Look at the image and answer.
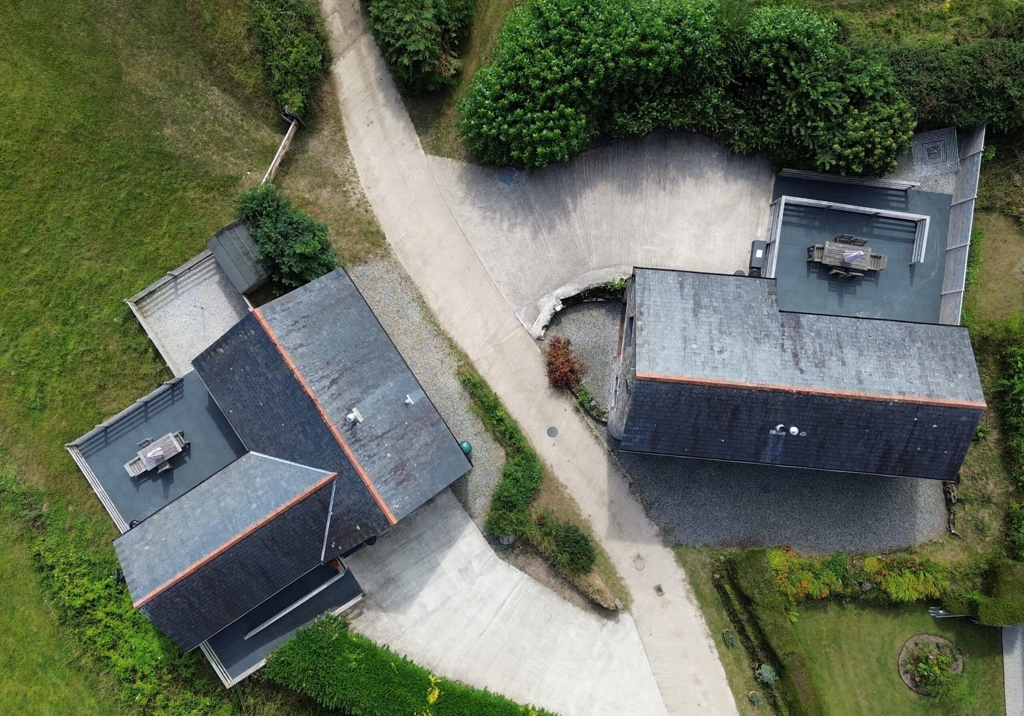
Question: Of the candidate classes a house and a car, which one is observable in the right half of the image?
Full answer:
It is a house that can be seen in the right half of the image.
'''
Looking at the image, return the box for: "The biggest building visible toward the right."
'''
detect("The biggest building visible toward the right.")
[608,265,988,483]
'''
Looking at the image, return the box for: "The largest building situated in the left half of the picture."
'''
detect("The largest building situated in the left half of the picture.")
[113,267,473,653]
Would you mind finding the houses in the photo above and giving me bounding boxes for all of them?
[608,265,988,483]
[113,267,473,653]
